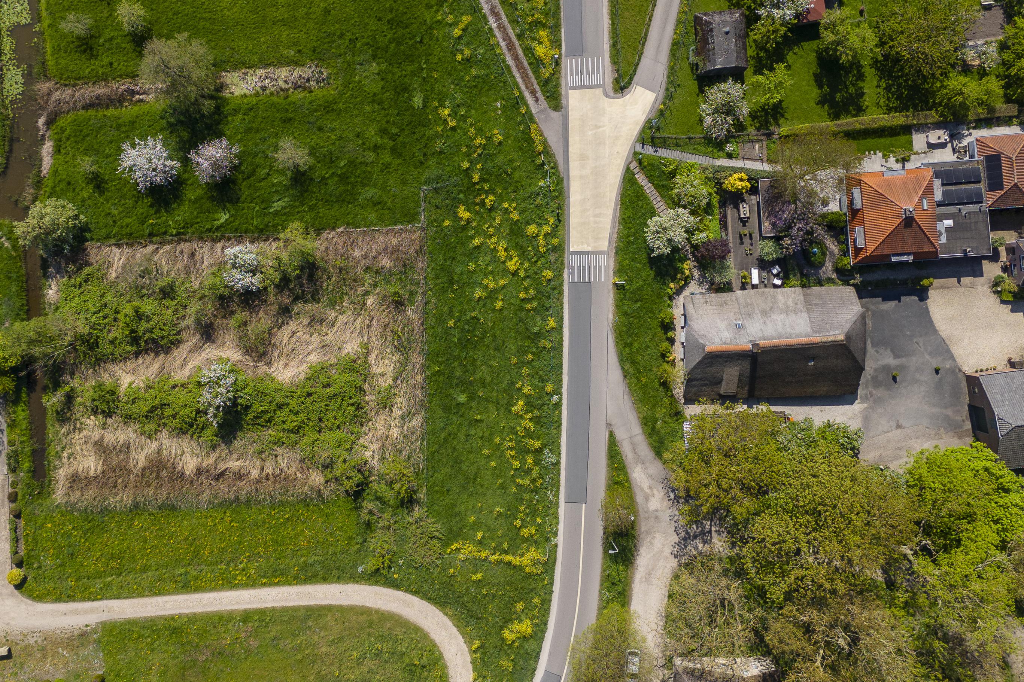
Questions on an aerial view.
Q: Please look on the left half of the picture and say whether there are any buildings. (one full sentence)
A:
No, I see no building on the left half of the picture.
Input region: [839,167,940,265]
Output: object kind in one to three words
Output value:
house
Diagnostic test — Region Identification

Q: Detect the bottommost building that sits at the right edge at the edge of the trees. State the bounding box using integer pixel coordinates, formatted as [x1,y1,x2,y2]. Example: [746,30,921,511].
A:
[966,372,1024,470]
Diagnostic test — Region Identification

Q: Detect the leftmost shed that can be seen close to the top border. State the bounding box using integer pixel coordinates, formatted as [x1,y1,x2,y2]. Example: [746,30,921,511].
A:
[695,9,748,76]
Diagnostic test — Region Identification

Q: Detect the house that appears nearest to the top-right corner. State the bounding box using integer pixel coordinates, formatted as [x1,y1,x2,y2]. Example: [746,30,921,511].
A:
[966,132,1024,209]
